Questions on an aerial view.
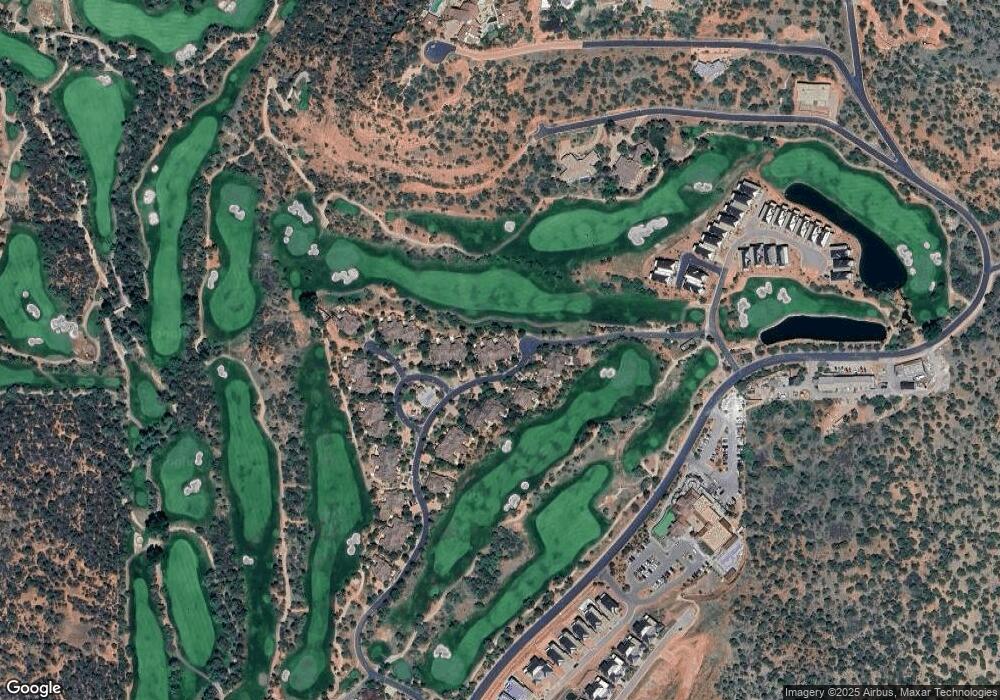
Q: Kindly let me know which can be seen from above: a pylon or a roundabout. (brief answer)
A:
roundabout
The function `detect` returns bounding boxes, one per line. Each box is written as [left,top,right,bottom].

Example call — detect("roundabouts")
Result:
[395,373,449,432]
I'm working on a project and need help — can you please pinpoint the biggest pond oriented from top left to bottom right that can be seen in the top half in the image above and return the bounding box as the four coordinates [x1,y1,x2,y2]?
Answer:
[785,184,905,289]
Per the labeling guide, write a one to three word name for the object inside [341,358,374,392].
house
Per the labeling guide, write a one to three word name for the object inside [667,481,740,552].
building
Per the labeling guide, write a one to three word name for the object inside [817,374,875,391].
shed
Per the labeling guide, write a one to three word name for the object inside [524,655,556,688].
house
